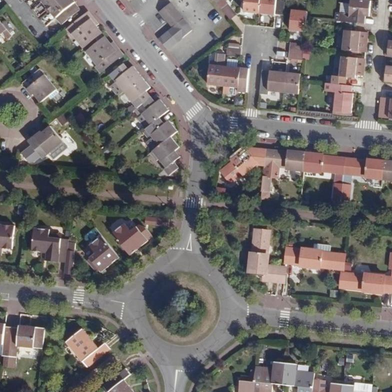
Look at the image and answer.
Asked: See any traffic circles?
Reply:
Yes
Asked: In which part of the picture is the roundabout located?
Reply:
bottom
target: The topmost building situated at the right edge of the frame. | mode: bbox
[336,0,374,26]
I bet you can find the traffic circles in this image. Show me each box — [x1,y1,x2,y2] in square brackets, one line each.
[96,196,272,383]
